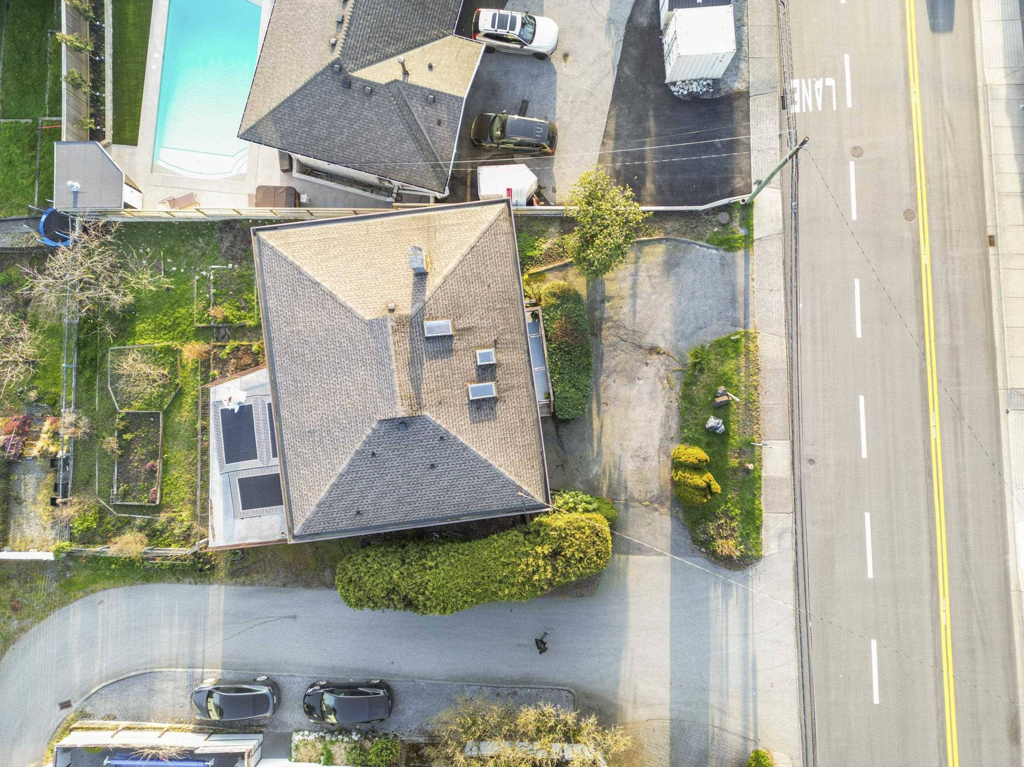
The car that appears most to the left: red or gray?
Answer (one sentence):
In this view, the car that appears most to the left is gray.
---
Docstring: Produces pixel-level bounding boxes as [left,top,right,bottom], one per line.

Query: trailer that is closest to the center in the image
[477,164,552,207]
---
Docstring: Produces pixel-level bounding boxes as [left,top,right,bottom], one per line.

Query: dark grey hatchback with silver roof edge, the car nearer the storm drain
[189,679,274,728]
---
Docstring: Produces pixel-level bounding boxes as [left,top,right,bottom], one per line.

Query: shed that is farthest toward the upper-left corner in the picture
[53,141,144,211]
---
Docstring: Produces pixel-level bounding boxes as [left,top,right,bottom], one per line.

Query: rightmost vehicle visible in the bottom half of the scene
[302,682,386,731]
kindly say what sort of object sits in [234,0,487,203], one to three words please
house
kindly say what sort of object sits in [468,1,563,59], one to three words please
car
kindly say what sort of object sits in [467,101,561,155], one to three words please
car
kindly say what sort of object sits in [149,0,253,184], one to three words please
swimming pool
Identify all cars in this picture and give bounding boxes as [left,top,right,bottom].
[468,1,563,59]
[467,101,561,155]
[302,682,386,731]
[189,679,274,728]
